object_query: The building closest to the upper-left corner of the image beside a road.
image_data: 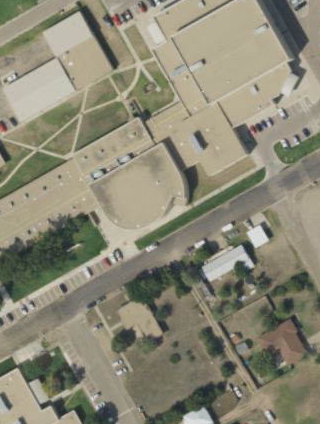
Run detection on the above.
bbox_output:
[2,12,116,122]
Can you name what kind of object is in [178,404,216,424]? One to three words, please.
house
